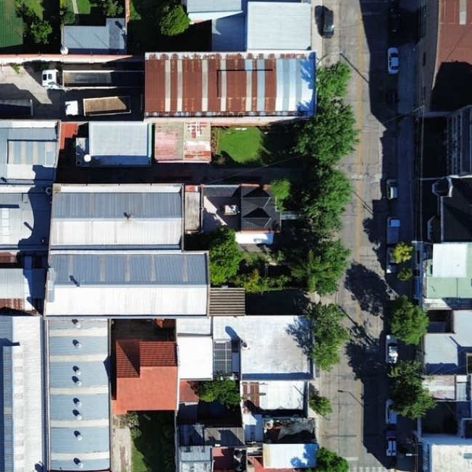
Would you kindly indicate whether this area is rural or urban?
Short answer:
urban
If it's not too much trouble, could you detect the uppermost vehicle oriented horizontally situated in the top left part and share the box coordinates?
[44,69,143,88]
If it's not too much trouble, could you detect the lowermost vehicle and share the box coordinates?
[382,430,398,458]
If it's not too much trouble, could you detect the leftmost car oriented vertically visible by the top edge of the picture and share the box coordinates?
[321,7,335,36]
